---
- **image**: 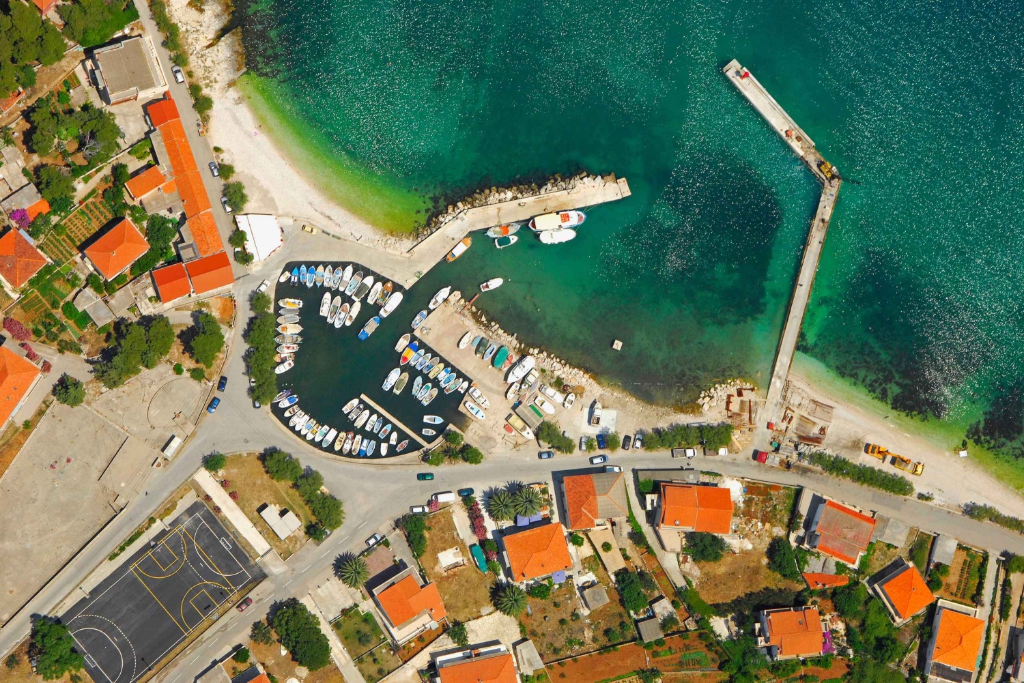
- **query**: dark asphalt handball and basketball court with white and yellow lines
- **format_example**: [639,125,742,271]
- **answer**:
[60,500,266,683]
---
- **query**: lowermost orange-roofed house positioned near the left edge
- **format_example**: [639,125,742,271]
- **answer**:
[0,344,49,435]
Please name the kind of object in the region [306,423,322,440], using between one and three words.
boat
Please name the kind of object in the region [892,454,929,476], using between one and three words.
truck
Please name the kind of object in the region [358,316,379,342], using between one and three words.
boat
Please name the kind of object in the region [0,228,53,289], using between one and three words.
house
